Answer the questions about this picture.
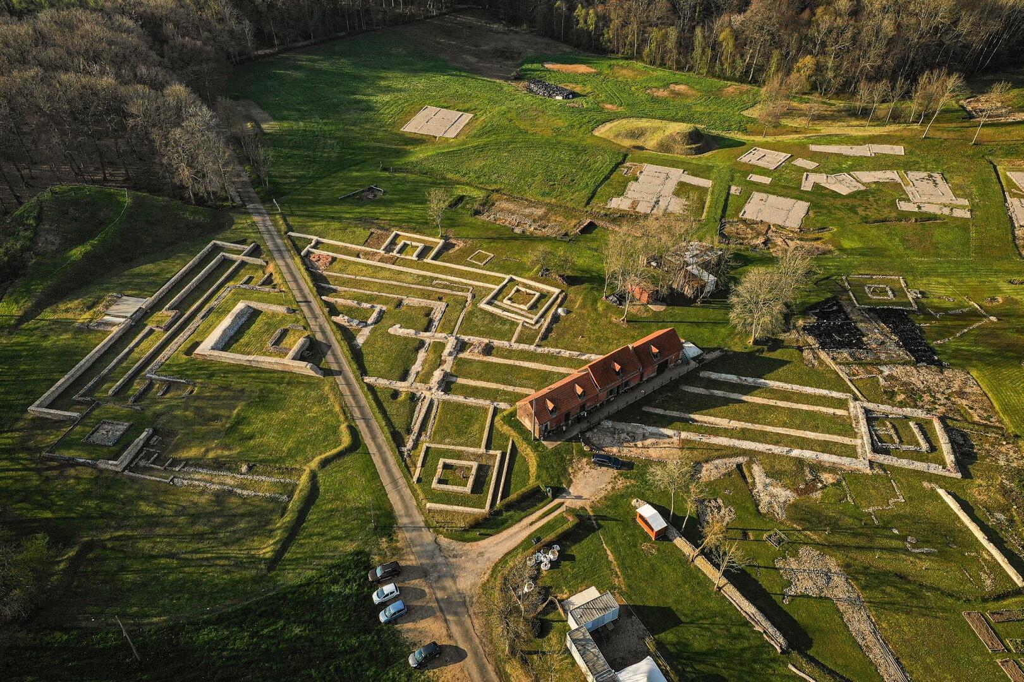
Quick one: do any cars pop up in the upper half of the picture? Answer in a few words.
No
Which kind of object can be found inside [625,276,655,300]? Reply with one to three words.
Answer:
shed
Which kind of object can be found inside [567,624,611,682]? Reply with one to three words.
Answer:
building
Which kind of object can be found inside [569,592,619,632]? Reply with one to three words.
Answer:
building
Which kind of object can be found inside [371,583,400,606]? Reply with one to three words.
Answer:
car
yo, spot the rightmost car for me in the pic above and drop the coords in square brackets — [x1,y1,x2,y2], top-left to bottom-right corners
[592,452,622,471]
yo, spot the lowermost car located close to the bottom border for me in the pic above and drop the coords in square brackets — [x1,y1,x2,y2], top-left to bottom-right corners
[407,640,442,669]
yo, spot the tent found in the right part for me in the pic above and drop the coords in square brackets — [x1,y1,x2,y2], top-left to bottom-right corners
[616,657,664,682]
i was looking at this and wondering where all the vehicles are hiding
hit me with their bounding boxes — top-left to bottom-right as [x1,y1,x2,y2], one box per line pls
[592,452,622,471]
[407,640,442,669]
[378,600,409,624]
[368,560,401,583]
[371,583,400,606]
